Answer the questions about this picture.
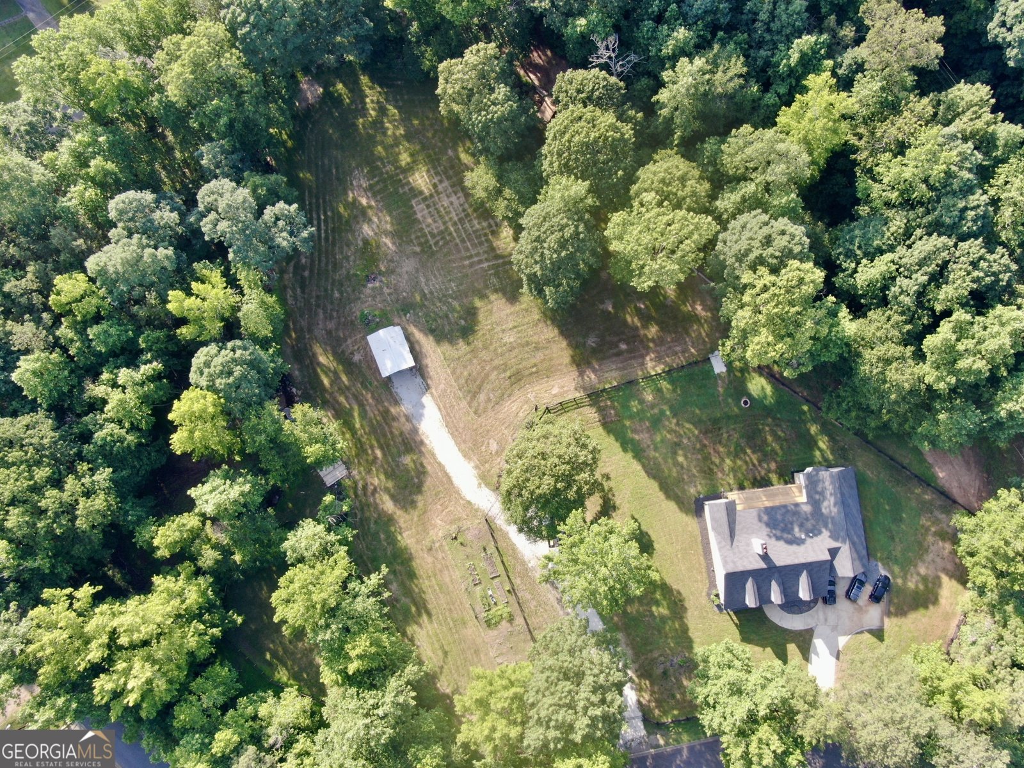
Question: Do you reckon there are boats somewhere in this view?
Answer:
No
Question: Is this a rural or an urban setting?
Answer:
rural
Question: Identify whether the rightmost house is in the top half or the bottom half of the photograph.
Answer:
bottom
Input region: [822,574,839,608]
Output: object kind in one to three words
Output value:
vehicle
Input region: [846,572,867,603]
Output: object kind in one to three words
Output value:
car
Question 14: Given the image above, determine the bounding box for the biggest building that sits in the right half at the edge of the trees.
[706,461,869,611]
